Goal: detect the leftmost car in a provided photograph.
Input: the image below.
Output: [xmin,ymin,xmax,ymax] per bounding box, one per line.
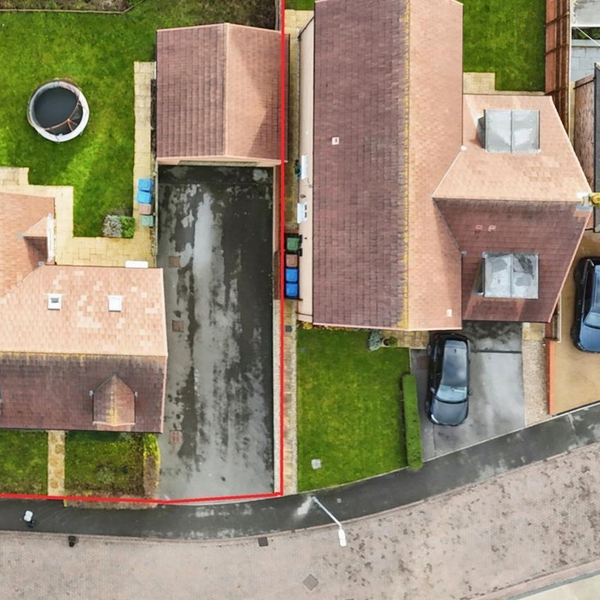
[425,331,476,427]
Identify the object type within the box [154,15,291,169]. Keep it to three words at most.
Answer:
building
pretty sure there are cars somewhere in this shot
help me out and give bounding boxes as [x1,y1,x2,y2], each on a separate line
[425,331,476,427]
[570,257,600,353]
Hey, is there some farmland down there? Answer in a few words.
No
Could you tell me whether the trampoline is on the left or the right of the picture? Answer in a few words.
left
